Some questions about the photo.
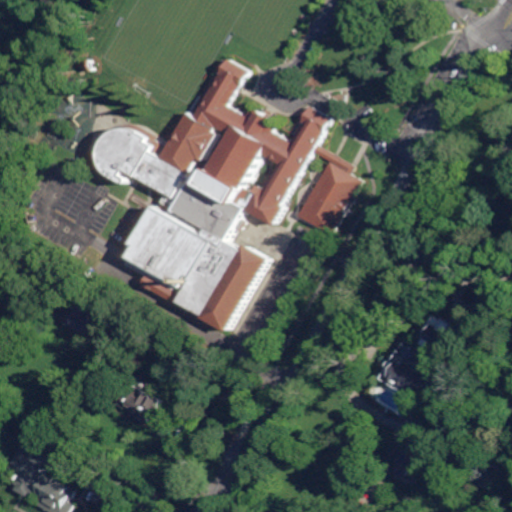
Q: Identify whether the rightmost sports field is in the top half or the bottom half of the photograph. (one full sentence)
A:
The top half of the photo is where the rightmost sports field is.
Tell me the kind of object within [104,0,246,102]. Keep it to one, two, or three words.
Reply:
sports field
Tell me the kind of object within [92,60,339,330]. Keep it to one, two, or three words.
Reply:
building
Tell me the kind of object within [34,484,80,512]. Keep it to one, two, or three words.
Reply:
house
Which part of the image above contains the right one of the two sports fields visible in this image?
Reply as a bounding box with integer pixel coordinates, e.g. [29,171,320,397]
[224,0,308,60]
